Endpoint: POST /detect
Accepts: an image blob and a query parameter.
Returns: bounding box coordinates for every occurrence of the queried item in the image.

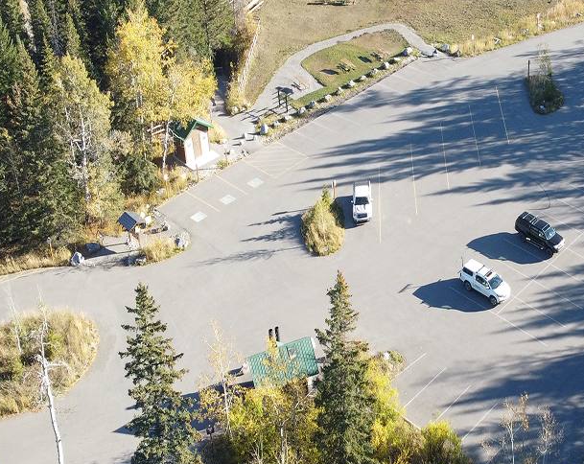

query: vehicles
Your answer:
[519,217,567,253]
[349,185,372,218]
[459,263,514,305]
